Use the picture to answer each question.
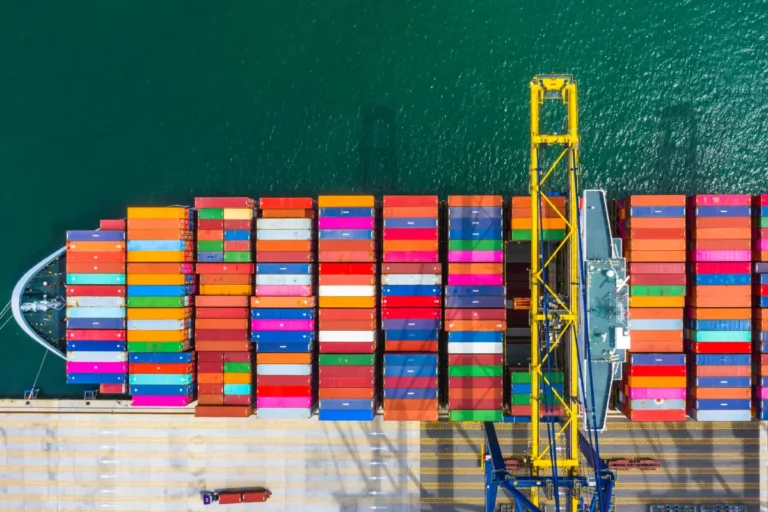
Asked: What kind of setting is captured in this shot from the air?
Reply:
port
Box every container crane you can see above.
[483,76,618,512]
